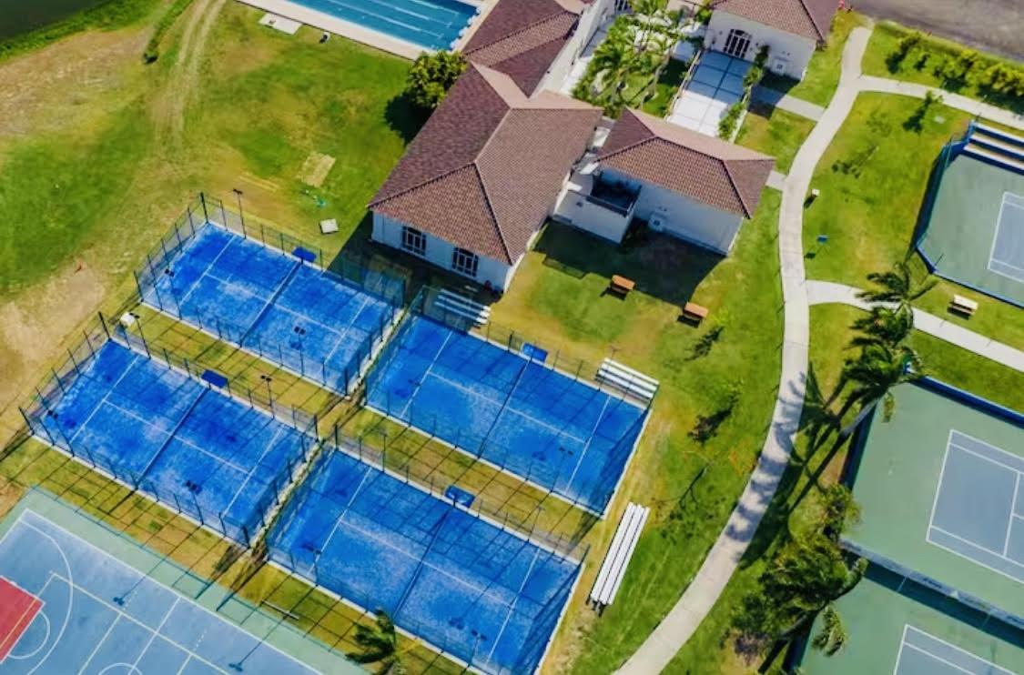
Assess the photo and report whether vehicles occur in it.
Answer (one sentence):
No, the scene contains no vehicle.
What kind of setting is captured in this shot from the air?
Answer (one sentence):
It's a sports ground.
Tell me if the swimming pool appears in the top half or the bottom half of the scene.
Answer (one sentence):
Seen from above, the swimming pool lies in the top half of the view.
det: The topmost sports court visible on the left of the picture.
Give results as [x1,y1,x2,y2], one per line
[132,191,409,401]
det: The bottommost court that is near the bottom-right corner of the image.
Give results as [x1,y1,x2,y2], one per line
[797,537,1024,675]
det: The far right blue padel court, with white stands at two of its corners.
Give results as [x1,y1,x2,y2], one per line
[359,284,661,522]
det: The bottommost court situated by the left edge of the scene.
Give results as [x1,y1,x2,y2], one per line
[0,492,365,675]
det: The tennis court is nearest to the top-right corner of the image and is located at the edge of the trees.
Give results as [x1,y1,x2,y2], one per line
[917,109,1024,307]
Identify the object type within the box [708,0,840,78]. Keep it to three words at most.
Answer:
house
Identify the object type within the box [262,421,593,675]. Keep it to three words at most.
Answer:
sports court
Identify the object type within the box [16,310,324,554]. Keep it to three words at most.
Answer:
sports court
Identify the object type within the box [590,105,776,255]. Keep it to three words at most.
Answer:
house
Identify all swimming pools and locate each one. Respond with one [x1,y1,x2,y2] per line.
[245,0,501,66]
